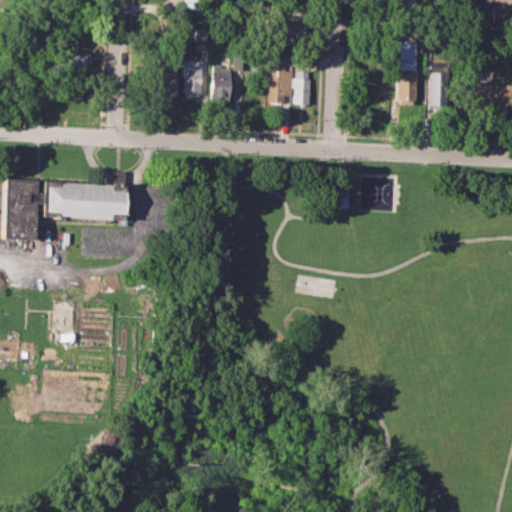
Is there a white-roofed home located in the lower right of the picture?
No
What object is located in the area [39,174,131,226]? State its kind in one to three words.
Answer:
building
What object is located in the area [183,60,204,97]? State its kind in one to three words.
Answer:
house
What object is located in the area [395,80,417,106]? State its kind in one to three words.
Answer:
house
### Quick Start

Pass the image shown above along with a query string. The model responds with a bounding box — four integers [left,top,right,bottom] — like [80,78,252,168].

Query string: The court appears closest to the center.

[296,275,336,299]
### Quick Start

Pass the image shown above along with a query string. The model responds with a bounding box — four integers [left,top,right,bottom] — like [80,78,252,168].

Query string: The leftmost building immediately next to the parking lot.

[4,180,39,240]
